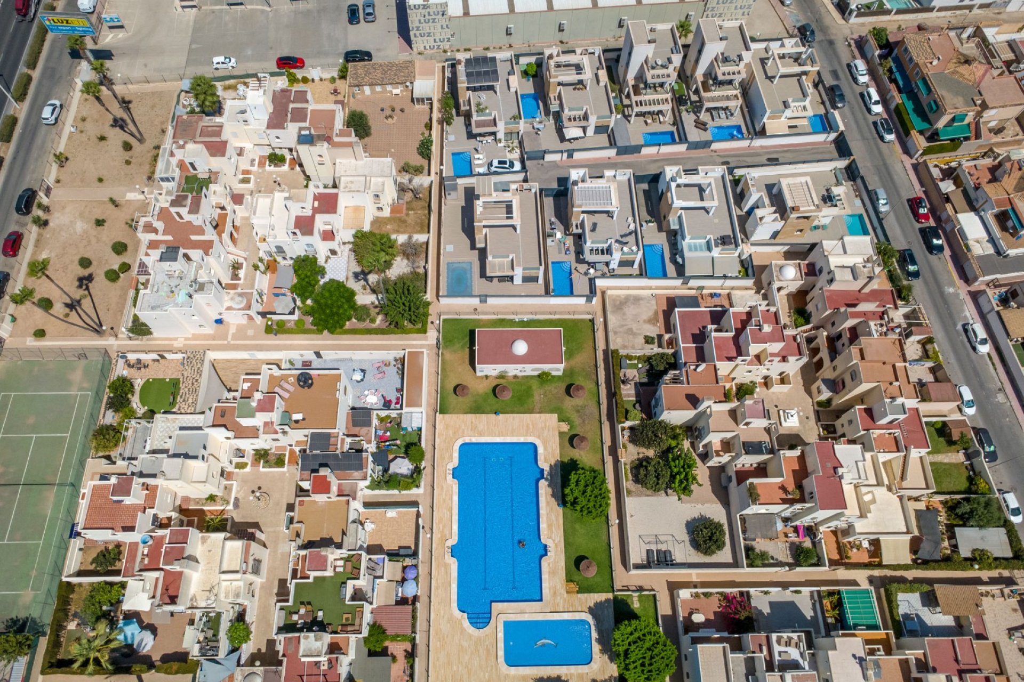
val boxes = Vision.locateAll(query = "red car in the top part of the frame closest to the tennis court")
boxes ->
[1,231,25,258]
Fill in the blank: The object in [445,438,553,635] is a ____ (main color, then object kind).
blue swimming pool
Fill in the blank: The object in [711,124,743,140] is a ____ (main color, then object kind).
blue swimming pool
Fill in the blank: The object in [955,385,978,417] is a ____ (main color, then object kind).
white car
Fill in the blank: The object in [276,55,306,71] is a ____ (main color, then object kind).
red car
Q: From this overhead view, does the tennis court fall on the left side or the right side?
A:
left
